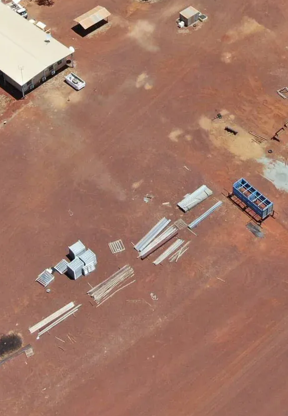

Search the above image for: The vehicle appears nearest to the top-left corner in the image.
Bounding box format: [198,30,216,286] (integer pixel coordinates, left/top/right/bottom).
[7,2,34,22]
